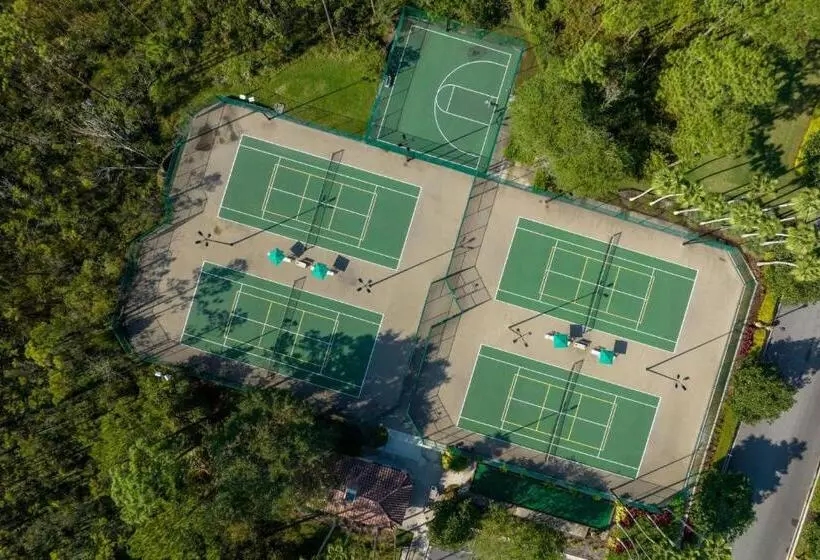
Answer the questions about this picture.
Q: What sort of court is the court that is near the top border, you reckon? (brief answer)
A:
basketball court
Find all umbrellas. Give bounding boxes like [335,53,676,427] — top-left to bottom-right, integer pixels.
[599,350,614,365]
[553,334,568,348]
[267,248,287,267]
[312,263,330,280]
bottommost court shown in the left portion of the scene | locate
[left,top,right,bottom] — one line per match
[181,262,383,397]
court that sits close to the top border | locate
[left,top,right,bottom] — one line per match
[368,17,519,179]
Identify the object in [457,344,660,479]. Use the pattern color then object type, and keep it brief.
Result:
green tennis court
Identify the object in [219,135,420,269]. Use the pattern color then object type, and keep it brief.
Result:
green tennis court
